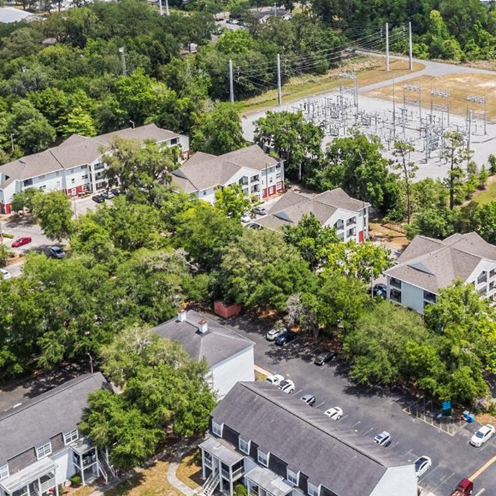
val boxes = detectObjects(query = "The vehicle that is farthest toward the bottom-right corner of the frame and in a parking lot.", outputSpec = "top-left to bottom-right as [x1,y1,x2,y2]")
[444,469,477,496]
